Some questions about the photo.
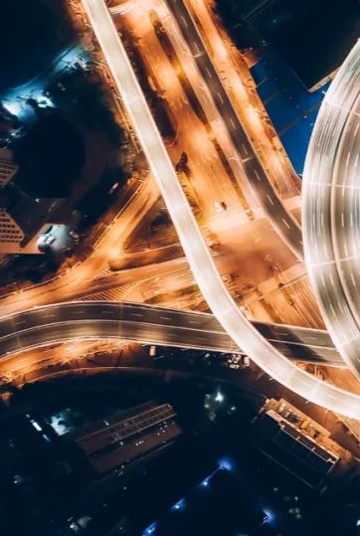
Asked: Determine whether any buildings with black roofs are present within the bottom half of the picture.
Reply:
Yes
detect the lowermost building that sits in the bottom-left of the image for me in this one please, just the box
[57,484,127,536]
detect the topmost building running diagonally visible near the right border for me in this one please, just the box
[245,0,348,102]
